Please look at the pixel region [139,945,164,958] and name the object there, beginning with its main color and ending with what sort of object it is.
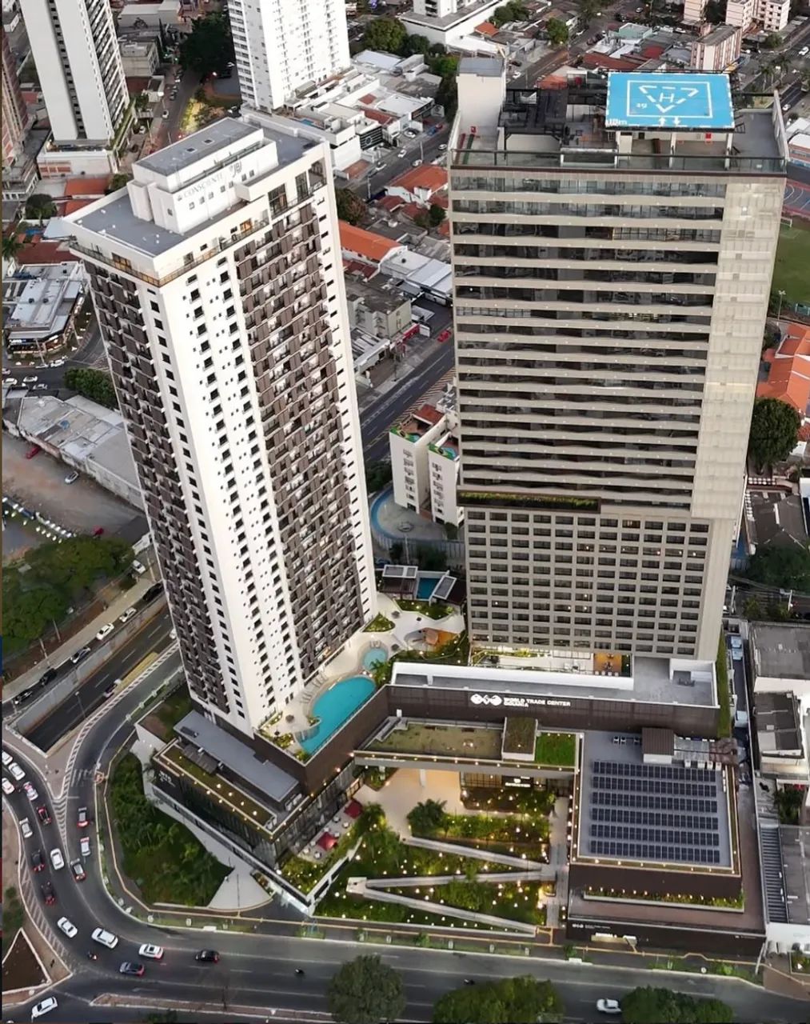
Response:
white vehicle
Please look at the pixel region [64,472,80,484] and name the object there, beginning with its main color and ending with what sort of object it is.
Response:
gray vehicle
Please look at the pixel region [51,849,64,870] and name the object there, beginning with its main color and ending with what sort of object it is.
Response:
white vehicle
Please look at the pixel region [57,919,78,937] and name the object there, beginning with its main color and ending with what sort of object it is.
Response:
white car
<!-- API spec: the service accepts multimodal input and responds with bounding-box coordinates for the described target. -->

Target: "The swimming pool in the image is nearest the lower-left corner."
[297,674,377,756]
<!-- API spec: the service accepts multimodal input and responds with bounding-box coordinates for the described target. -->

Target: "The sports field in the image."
[768,213,810,310]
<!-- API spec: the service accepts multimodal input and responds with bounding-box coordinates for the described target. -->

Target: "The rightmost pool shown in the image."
[415,576,442,602]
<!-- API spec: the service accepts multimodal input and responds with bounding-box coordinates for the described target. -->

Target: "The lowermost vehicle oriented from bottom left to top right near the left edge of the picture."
[32,995,58,1017]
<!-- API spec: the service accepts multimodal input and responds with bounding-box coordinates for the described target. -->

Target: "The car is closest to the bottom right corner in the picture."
[794,940,806,957]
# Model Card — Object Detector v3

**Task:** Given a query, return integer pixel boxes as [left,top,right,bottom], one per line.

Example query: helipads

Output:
[603,74,736,130]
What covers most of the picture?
buildings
